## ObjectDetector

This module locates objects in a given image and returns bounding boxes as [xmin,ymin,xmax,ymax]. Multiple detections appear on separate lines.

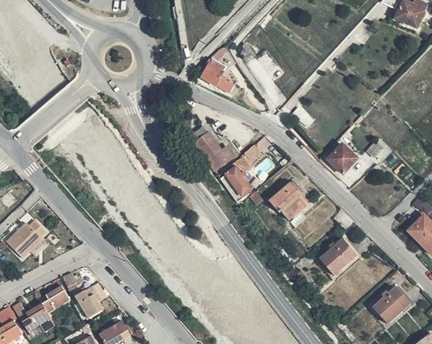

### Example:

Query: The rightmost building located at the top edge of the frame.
[394,0,426,28]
